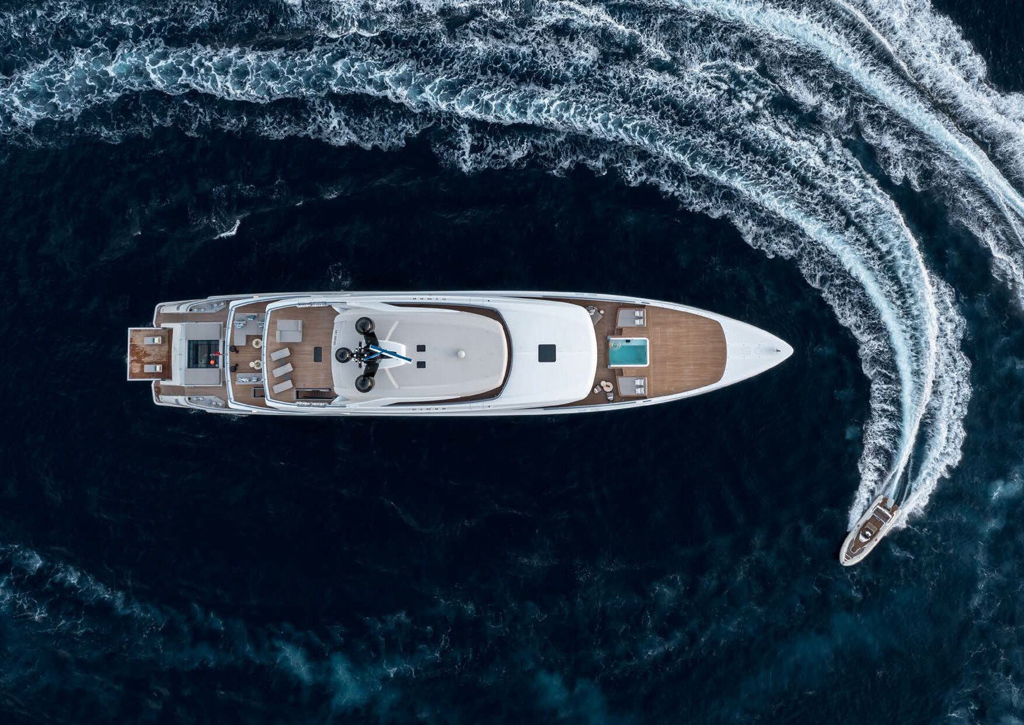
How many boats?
2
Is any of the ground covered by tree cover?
No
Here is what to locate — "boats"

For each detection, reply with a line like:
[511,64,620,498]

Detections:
[844,496,903,567]
[127,291,793,416]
